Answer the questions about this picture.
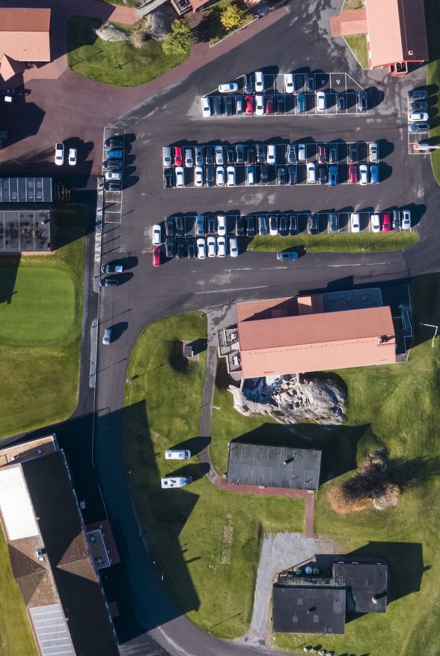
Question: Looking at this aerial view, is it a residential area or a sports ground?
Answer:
residential area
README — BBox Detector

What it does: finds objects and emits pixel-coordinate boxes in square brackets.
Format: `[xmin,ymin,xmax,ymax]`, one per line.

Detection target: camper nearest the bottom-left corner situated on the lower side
[163,476,189,488]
